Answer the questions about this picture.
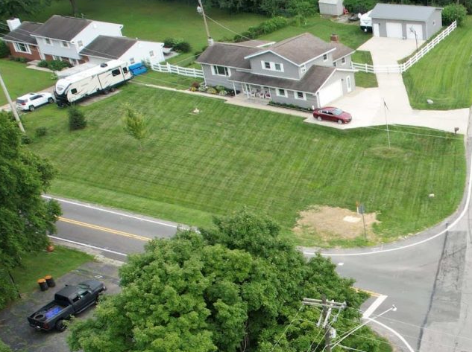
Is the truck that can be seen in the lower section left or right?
left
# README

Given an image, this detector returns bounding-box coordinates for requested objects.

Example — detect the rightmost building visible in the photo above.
[368,5,437,40]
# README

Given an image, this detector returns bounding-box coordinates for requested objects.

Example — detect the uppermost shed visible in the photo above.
[316,0,342,15]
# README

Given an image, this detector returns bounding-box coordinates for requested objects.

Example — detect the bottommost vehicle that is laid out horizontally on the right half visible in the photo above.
[309,105,354,125]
